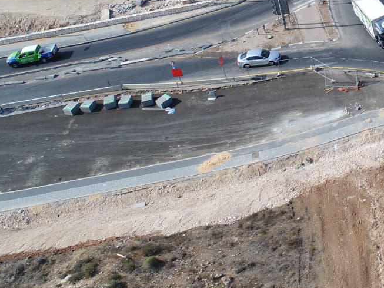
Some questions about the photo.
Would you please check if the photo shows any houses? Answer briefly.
No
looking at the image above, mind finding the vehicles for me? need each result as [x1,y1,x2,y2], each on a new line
[6,45,60,71]
[236,49,281,68]
[353,0,384,46]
